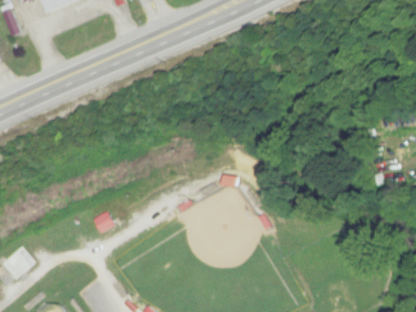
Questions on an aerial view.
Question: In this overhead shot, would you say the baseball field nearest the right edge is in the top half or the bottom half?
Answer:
bottom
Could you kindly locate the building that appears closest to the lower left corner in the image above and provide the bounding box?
[3,246,37,280]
